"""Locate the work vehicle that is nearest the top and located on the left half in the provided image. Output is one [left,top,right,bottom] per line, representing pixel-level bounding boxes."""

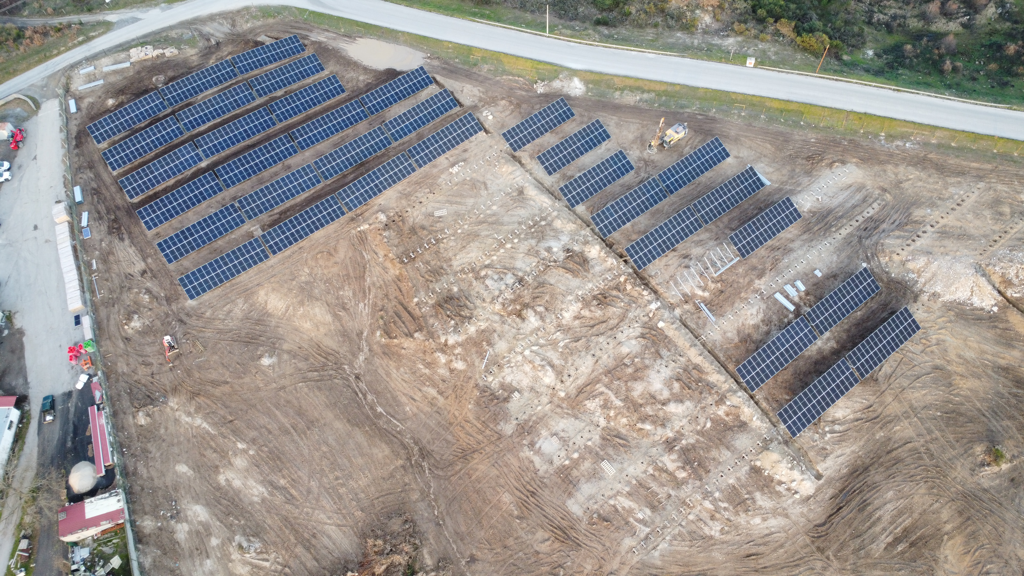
[7,127,27,152]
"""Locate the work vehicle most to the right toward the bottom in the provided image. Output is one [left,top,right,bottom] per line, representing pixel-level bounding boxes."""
[164,333,181,362]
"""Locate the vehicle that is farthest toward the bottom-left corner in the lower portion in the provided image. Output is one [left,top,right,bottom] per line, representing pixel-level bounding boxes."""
[39,394,56,424]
